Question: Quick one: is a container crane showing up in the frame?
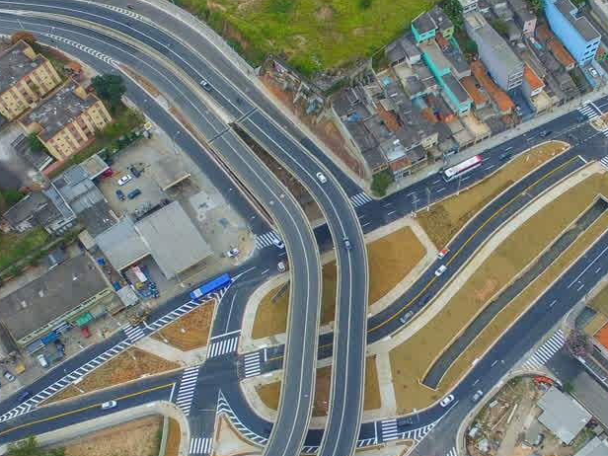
No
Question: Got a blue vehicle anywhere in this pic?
Yes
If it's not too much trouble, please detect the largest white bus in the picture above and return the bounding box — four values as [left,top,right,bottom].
[443,152,483,179]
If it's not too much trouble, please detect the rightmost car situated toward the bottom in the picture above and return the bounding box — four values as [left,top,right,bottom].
[468,389,484,403]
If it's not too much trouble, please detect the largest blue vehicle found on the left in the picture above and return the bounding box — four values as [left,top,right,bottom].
[187,271,232,300]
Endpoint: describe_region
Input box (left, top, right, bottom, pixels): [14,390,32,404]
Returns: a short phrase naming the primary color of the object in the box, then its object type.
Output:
blue vehicle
